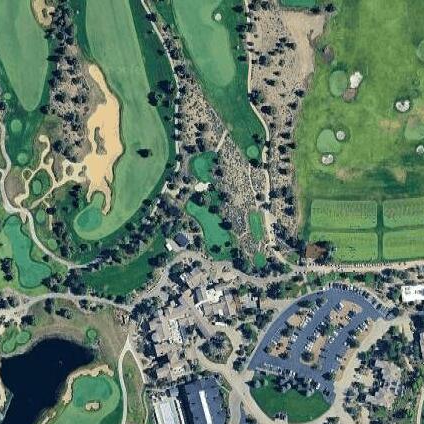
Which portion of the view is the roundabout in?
bottom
